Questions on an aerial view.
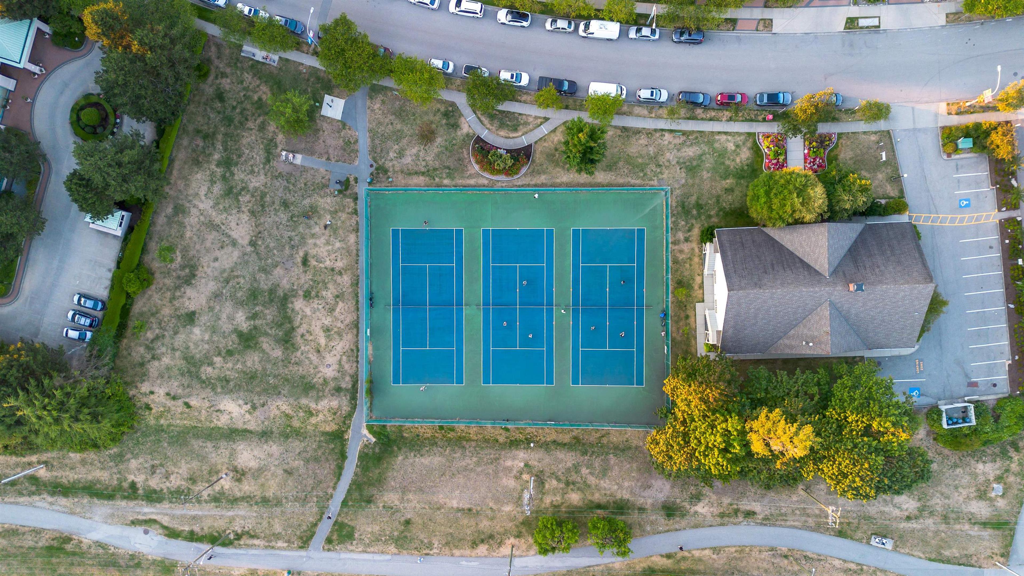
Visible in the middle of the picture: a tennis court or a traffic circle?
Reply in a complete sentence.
Visible in the middle of the picture is a tennis court.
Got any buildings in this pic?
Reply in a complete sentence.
Yes, looking at the shot, I can spot a building.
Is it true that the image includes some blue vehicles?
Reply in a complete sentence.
Yes, the picture does show a blue vehicle.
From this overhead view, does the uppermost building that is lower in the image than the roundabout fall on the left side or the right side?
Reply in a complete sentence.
The uppermost building that is lower in the image than the roundabout is on the left side of the image.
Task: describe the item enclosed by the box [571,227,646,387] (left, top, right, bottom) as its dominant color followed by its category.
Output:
blue tennis court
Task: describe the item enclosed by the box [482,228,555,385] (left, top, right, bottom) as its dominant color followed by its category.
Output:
blue tennis court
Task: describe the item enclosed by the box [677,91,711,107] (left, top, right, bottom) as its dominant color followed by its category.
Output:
blue car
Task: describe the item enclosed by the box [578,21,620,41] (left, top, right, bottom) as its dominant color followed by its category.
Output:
white vehicle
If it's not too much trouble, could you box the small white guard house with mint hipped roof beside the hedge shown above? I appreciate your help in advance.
[84,203,139,236]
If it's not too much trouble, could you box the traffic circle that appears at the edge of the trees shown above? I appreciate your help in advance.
[66,94,115,141]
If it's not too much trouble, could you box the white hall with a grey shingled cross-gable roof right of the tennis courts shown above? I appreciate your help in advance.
[700,221,937,354]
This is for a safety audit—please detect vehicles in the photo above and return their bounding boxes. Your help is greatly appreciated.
[428,58,455,75]
[536,78,577,96]
[715,91,748,107]
[498,9,531,27]
[67,309,102,328]
[62,326,95,343]
[498,70,529,87]
[449,0,484,18]
[73,293,107,311]
[545,17,575,34]
[636,88,668,104]
[237,2,270,23]
[273,15,306,36]
[824,91,841,105]
[671,28,705,45]
[462,63,489,77]
[754,91,790,106]
[677,91,711,107]
[628,25,660,42]
[588,82,626,101]
[578,21,620,41]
